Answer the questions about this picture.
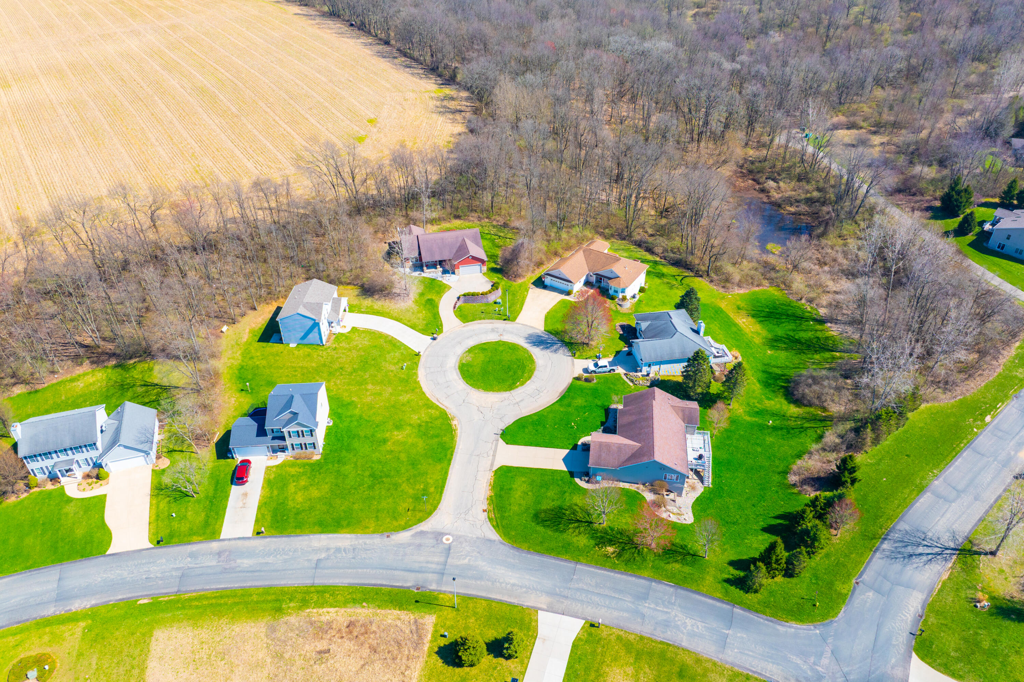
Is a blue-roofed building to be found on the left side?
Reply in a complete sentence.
Yes, you'll find a blue-roofed building on the left side.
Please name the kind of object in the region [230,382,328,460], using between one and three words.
house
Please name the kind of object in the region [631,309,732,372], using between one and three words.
house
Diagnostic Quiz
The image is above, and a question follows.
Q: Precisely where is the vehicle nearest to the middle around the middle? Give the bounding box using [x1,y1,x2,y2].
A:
[586,359,620,374]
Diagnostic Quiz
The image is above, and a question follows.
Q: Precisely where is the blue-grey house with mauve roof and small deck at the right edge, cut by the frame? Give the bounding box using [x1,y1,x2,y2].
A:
[978,207,1024,260]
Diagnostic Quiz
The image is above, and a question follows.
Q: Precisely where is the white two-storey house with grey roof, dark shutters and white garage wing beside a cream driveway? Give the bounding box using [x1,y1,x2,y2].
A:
[10,401,159,486]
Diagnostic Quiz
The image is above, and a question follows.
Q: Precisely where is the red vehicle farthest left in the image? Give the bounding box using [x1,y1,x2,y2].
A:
[233,459,250,484]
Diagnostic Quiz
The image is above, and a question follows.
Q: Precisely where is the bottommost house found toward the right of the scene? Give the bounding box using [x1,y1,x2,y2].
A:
[589,387,712,495]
